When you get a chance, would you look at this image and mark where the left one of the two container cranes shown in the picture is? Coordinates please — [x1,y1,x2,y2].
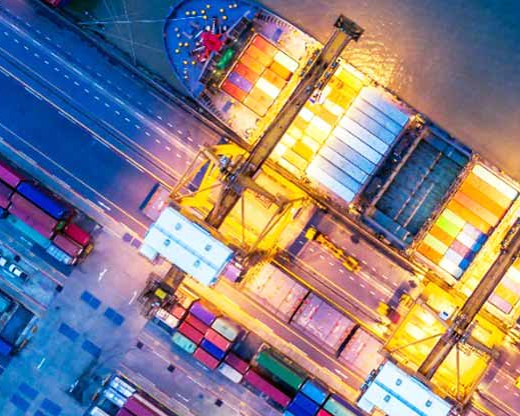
[127,4,369,328]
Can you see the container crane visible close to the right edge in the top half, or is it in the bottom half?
bottom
